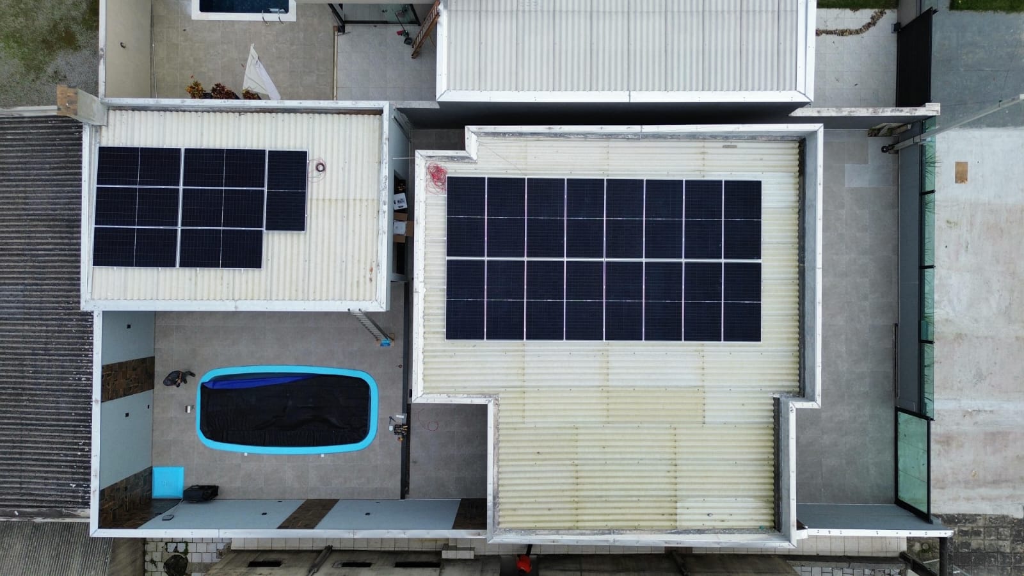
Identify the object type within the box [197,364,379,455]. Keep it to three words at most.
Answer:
swimming pool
